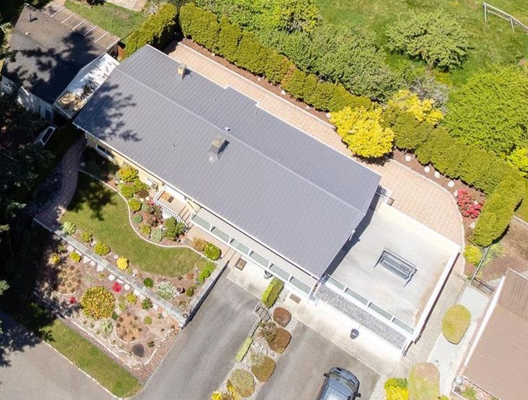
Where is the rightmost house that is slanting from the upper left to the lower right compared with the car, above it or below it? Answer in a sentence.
In the image, the rightmost house that is slanting from the upper left to the lower right sits above the car.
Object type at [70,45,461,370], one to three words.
house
